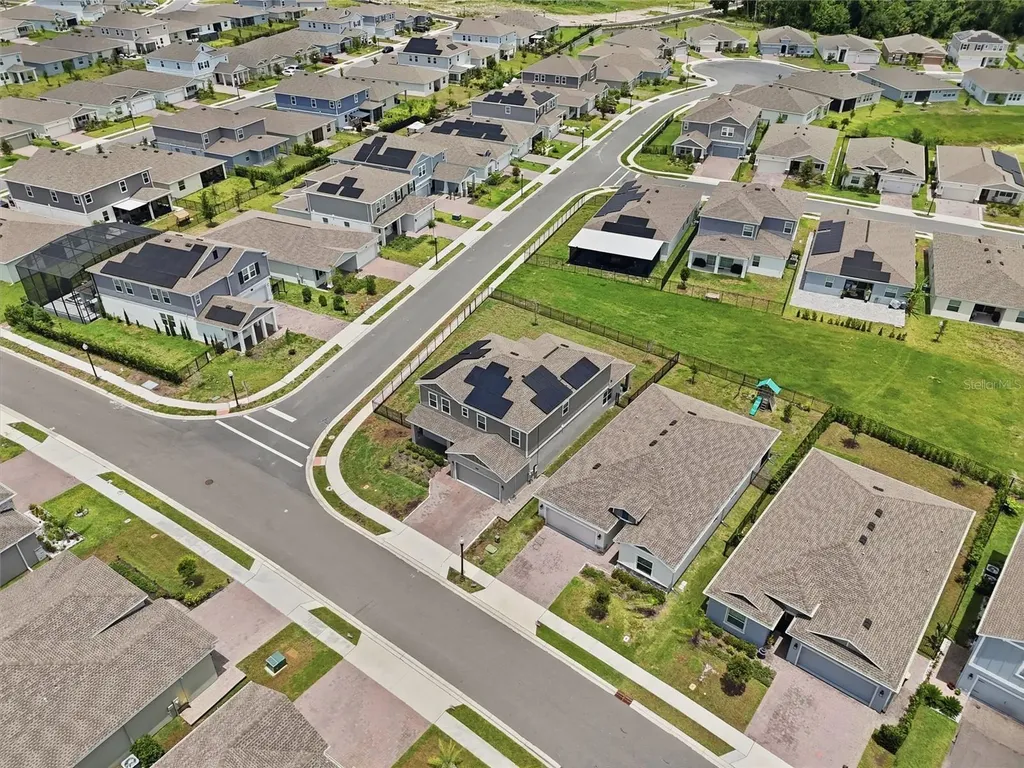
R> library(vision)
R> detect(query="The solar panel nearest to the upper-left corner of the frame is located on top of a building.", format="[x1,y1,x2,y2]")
[101,243,208,288]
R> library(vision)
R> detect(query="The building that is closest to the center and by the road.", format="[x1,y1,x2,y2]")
[402,332,637,503]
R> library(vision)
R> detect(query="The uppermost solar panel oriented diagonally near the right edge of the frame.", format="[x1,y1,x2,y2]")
[992,150,1024,190]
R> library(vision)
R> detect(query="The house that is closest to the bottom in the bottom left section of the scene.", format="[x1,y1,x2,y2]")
[149,680,333,768]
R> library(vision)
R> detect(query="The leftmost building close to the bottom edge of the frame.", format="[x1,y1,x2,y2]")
[0,547,224,768]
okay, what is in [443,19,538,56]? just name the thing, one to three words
house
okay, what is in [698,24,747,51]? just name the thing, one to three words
house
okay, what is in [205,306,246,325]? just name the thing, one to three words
solar panel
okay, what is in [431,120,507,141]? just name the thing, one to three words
solar panel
